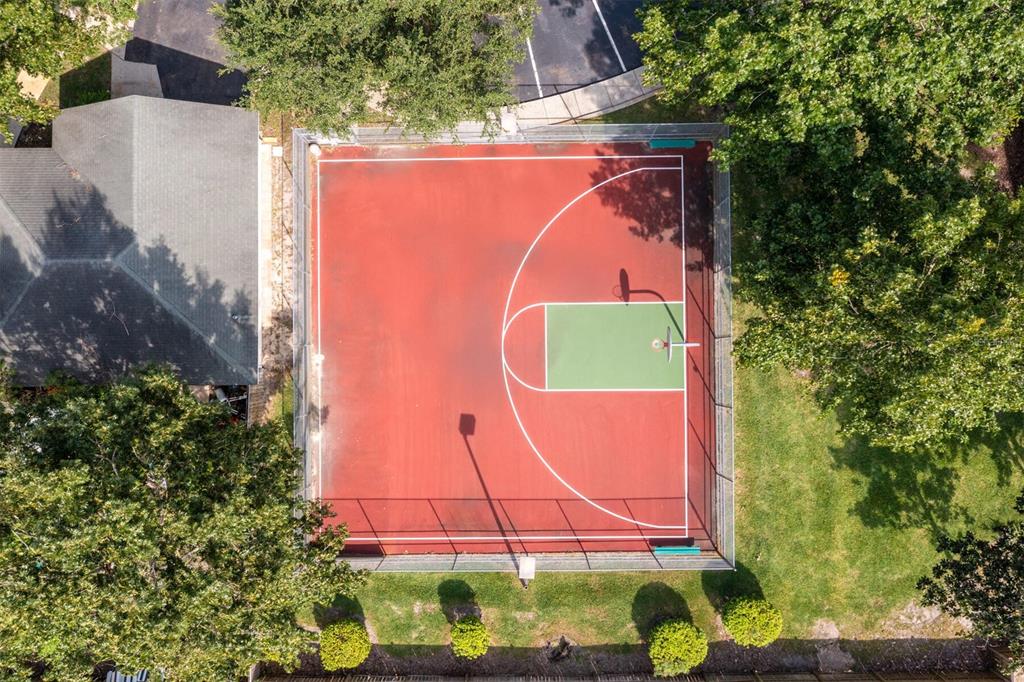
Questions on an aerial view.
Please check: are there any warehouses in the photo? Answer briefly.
No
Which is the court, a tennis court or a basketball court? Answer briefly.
basketball court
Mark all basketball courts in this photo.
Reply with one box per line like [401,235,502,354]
[306,136,723,560]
